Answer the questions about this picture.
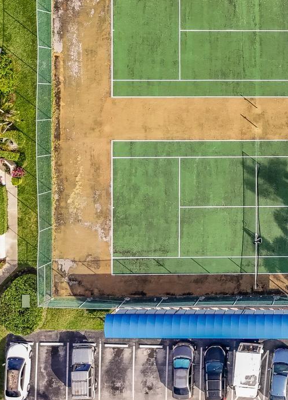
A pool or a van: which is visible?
van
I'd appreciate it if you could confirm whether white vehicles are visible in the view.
Yes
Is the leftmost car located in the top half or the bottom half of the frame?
bottom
